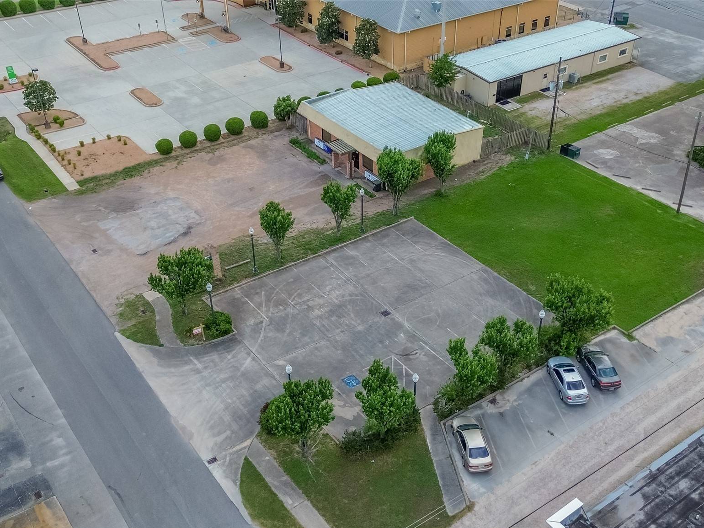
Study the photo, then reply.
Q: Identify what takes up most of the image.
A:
paved ground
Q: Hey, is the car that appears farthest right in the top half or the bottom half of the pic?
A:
bottom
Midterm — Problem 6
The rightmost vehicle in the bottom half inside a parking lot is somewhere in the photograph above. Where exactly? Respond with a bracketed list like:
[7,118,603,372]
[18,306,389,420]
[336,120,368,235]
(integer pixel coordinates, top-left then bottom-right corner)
[581,346,627,396]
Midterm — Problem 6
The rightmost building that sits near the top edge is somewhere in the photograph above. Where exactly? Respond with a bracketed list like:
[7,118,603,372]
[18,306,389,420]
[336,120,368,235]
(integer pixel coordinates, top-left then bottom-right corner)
[449,18,640,107]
